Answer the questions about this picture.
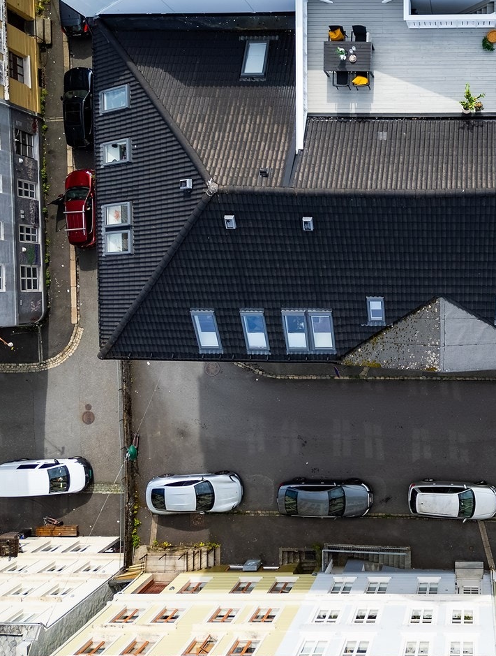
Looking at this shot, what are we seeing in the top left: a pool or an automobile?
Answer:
automobile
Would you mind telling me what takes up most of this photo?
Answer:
buildings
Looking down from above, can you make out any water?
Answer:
No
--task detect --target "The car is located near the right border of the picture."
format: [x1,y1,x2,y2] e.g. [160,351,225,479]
[409,478,496,525]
